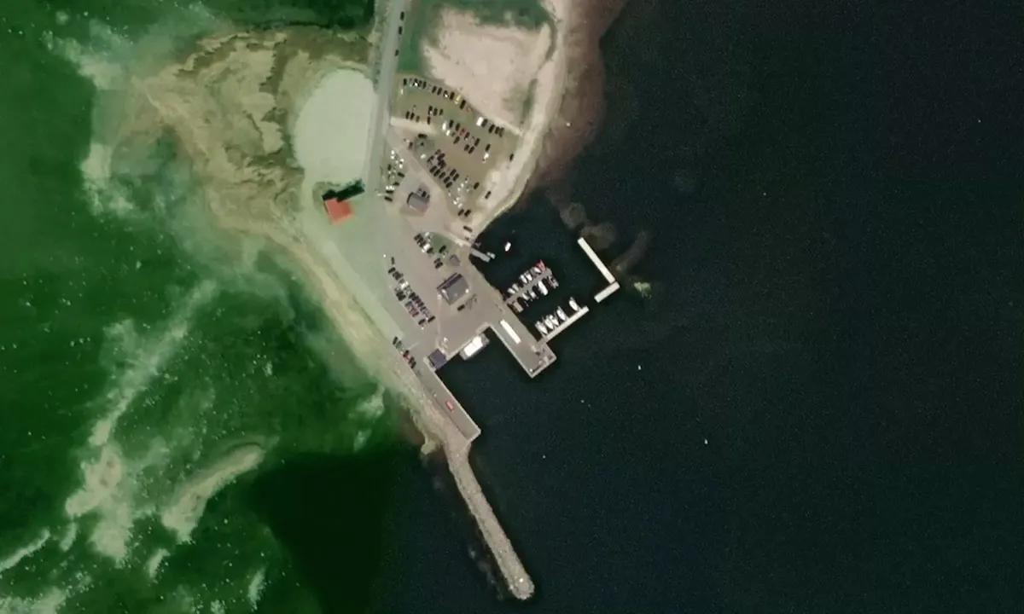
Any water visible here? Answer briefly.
Yes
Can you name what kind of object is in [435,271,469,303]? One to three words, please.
building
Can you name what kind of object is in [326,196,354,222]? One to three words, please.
house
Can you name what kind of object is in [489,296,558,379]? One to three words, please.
pier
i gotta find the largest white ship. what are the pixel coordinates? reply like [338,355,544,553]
[459,334,489,360]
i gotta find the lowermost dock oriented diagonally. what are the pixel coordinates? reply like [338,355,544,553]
[419,362,482,444]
